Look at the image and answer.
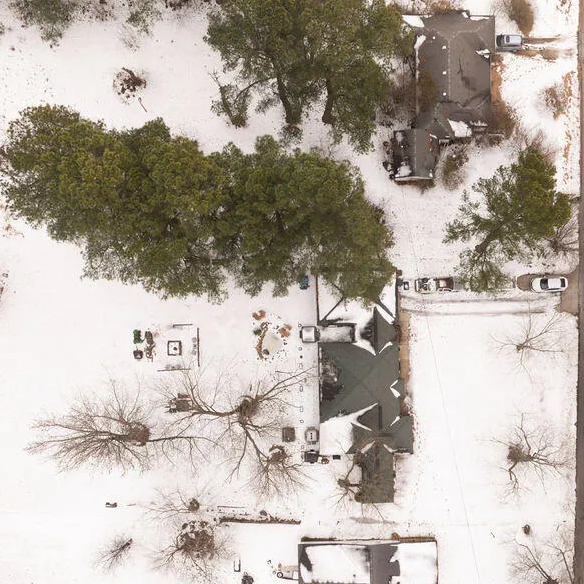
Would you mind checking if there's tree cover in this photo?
Yes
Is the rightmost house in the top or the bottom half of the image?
top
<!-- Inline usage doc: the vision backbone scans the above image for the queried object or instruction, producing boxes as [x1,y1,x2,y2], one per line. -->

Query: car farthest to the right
[532,276,569,292]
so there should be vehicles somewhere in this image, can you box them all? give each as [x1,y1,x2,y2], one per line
[496,31,525,49]
[532,276,569,292]
[416,276,468,293]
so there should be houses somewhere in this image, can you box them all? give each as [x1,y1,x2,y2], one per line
[316,250,413,503]
[298,540,437,584]
[393,9,496,183]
